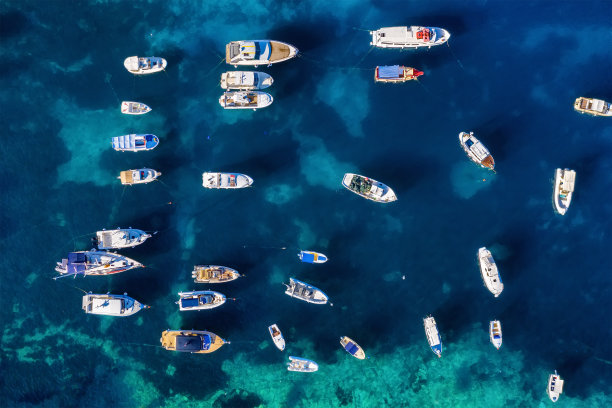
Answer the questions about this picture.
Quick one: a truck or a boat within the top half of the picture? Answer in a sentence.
There is a boat within the top half of the picture.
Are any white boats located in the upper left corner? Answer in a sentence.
Yes, you'll find a white boat in the upper left corner.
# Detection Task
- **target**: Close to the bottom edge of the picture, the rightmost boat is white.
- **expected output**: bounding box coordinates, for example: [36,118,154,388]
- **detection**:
[546,371,564,403]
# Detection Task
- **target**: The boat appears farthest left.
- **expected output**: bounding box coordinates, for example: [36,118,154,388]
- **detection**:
[51,260,67,274]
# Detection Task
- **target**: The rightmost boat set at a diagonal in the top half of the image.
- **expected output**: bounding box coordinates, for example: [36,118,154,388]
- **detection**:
[458,131,496,170]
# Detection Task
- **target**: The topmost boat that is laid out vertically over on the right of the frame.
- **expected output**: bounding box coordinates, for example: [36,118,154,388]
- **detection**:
[553,165,576,215]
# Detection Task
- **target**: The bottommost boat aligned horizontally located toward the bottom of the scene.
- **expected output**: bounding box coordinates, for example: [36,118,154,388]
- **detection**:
[287,356,318,372]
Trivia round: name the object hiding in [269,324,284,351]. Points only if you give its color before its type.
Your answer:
white boat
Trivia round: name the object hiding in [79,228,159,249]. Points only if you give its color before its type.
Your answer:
white boat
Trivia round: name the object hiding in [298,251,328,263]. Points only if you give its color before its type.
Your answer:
blue boat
